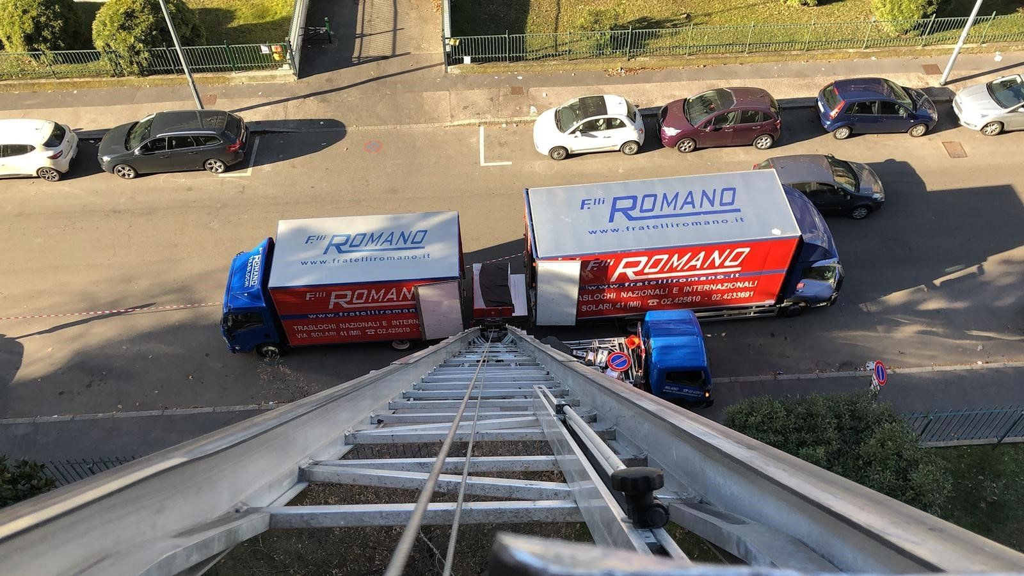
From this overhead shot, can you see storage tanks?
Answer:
No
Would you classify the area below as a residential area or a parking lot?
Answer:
parking lot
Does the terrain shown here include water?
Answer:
No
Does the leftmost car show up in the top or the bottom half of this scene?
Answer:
top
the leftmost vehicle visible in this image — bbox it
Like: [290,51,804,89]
[0,115,78,181]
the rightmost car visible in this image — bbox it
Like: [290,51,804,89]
[953,71,1024,136]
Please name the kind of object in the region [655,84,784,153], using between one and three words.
car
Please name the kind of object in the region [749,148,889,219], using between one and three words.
car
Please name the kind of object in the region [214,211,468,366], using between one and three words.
truck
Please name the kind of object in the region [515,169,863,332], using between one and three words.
truck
